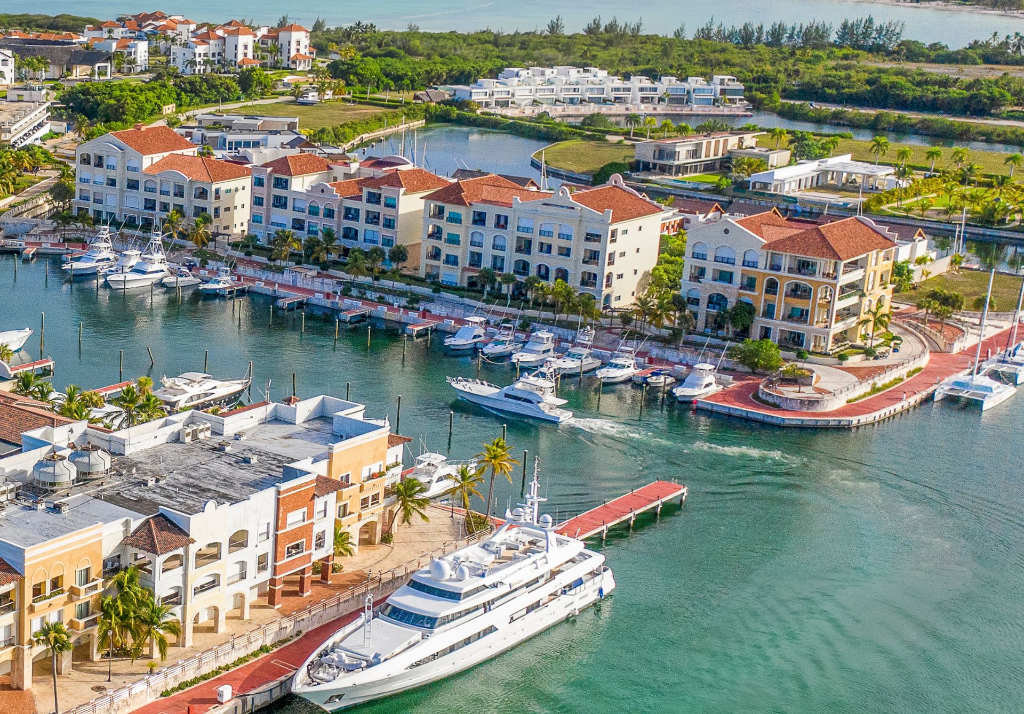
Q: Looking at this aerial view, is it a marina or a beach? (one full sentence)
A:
What you see here is a marina.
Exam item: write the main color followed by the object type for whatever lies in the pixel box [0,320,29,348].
white boat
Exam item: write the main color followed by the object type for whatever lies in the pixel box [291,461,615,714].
white boat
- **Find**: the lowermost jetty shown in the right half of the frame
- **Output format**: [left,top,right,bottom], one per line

[552,477,689,539]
